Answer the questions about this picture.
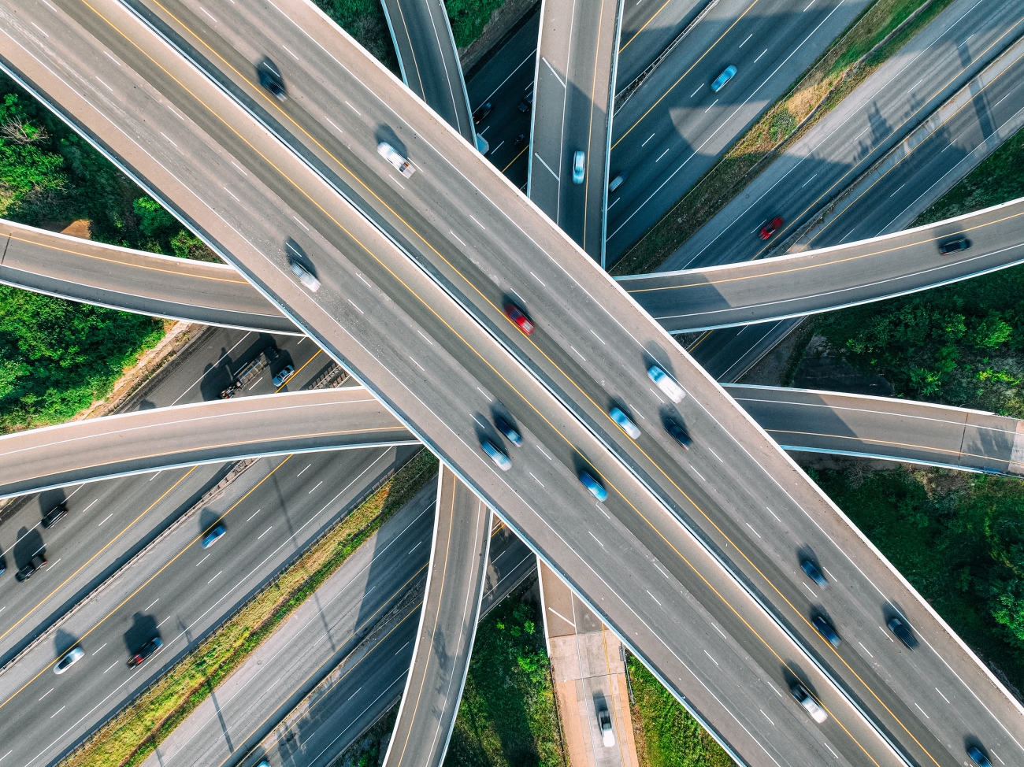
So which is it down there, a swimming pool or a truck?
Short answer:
truck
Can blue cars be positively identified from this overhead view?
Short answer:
Yes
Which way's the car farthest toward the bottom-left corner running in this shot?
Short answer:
diagonally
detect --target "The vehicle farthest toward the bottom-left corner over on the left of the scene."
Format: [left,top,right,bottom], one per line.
[55,647,84,673]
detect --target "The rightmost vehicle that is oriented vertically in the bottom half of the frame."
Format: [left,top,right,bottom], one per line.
[596,704,614,744]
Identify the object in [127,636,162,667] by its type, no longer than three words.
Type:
truck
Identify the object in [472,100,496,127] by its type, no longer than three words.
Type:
car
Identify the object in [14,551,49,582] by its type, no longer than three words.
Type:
truck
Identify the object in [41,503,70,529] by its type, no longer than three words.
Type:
car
